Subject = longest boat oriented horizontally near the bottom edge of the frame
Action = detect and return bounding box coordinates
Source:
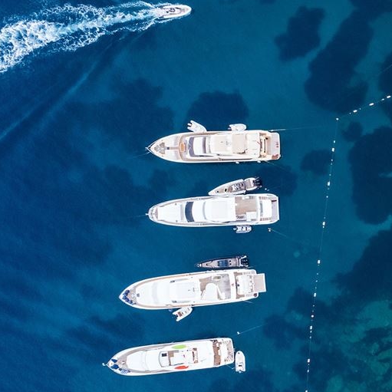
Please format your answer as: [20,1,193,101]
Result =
[105,337,240,373]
